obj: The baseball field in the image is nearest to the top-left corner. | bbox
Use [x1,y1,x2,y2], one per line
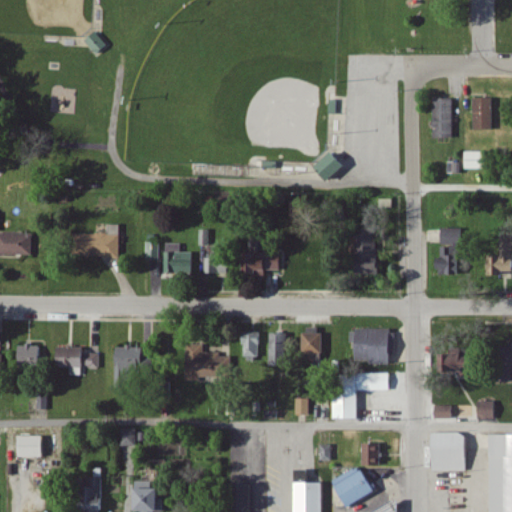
[26,0,92,36]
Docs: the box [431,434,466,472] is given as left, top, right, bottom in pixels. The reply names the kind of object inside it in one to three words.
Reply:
building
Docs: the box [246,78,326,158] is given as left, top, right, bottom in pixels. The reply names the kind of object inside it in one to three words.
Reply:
baseball field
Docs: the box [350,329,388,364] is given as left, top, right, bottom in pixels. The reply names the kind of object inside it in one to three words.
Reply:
building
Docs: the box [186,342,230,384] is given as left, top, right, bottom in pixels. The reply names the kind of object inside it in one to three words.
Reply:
house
